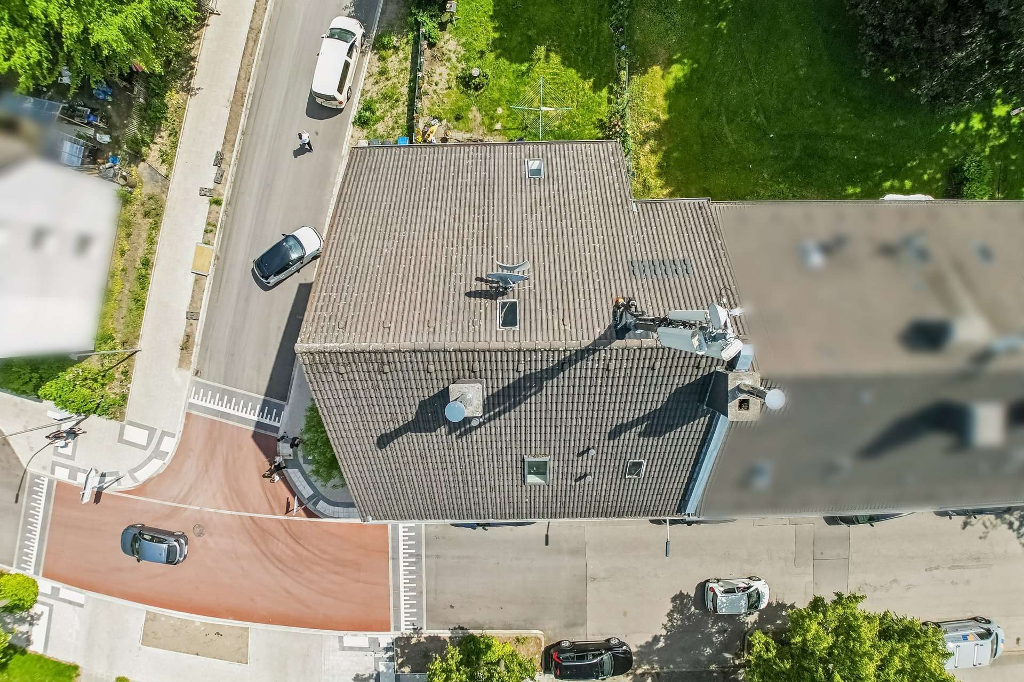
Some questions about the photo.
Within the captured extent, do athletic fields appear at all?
No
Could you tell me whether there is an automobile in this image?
Yes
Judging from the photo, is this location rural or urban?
urban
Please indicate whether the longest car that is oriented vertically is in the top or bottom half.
top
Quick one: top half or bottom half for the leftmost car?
bottom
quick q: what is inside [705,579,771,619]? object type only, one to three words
car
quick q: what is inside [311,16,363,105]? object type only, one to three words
car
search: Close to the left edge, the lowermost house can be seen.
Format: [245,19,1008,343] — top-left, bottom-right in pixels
[0,147,117,357]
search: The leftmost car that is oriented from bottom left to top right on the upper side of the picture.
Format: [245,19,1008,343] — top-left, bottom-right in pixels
[254,232,322,289]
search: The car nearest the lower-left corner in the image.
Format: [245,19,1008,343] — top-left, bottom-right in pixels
[118,526,189,566]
